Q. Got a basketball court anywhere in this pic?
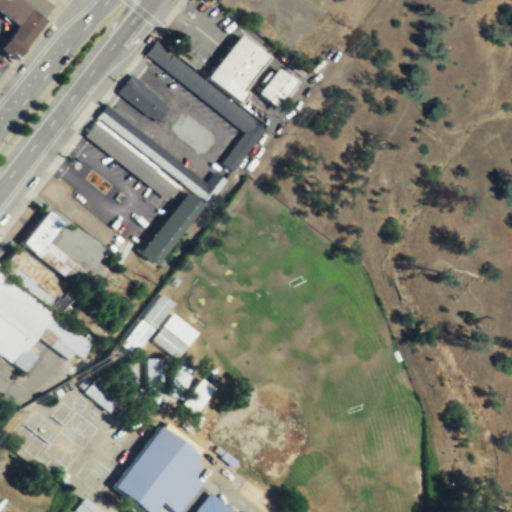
Yes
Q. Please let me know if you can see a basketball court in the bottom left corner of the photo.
Yes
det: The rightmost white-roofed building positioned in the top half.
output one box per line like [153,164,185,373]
[262,68,301,106]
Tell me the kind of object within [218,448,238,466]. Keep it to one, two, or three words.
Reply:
vehicle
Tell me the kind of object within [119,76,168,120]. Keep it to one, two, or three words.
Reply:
building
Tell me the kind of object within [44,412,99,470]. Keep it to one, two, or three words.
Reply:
basketball court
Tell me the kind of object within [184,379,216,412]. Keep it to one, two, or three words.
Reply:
house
